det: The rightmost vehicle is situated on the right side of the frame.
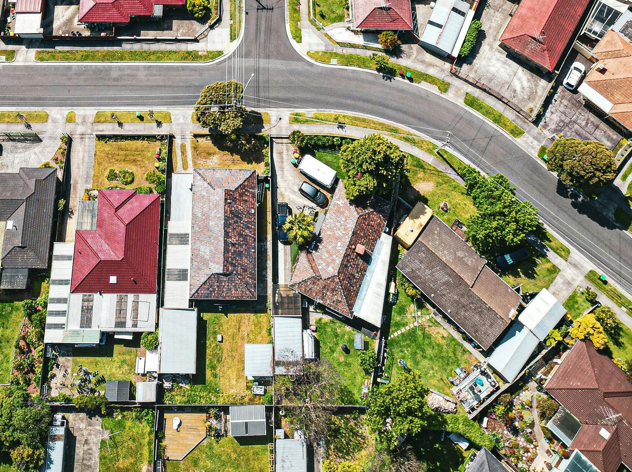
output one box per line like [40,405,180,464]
[563,61,586,92]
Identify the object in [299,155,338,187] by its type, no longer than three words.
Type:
camper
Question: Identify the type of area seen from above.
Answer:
residential area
